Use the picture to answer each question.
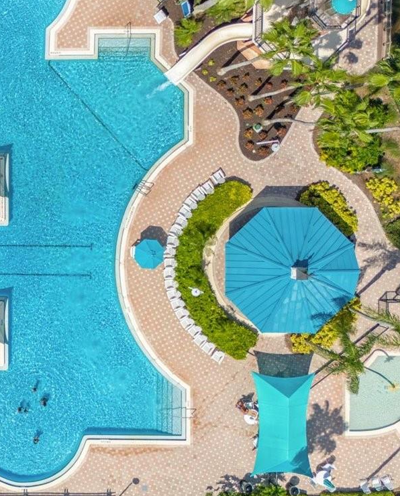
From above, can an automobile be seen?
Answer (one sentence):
No, I can't see a single automobile in this photo.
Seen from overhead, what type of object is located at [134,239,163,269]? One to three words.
umbrella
